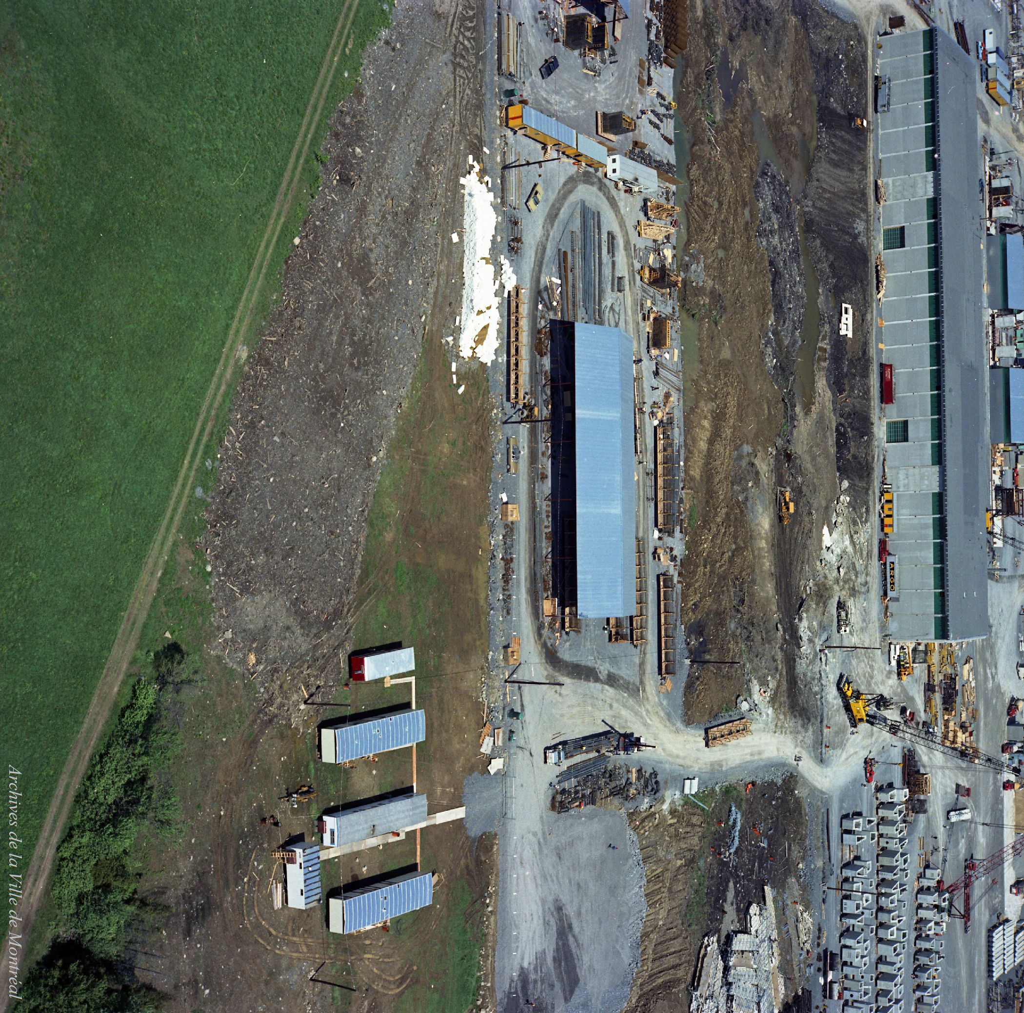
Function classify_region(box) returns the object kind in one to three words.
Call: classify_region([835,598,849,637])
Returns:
vehicle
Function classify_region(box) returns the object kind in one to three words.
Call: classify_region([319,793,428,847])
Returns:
trailer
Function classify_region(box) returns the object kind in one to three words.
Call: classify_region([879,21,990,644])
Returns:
building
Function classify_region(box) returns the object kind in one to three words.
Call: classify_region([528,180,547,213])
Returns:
car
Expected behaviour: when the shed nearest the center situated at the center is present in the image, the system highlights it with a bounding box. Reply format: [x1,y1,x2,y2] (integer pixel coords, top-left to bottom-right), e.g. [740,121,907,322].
[543,319,638,621]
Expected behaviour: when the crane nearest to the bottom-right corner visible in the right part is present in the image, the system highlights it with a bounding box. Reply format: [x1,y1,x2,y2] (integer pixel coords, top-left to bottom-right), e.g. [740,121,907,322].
[947,831,1024,922]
